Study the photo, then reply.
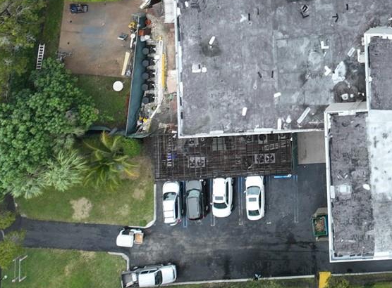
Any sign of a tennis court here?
No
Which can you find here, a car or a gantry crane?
car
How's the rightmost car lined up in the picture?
vertically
